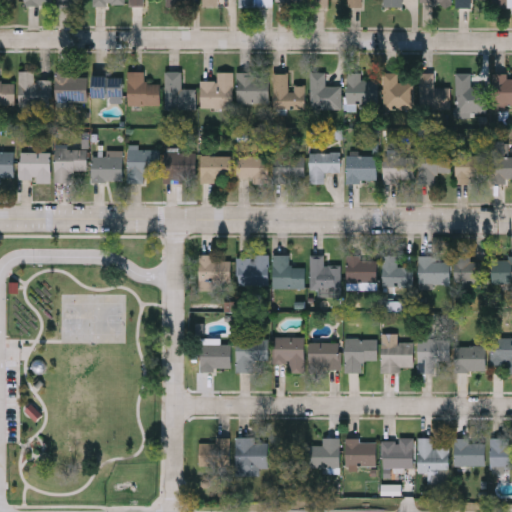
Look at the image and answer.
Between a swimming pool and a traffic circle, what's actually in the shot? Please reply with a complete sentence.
Of the two, only a swimming pool appears.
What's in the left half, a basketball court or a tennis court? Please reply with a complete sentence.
Visible in the left half is a basketball court.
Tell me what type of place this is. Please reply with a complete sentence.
The picture captures a residential area.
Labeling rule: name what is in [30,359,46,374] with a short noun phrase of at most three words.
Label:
gazebo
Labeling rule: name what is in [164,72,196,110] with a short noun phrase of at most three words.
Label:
house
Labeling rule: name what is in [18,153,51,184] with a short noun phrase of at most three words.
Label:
house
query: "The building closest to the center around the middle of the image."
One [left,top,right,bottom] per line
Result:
[236,256,269,286]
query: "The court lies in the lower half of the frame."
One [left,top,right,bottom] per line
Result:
[62,294,126,344]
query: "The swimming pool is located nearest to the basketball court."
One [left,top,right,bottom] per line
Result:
[205,318,231,338]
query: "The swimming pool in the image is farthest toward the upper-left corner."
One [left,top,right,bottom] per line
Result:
[99,104,124,122]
